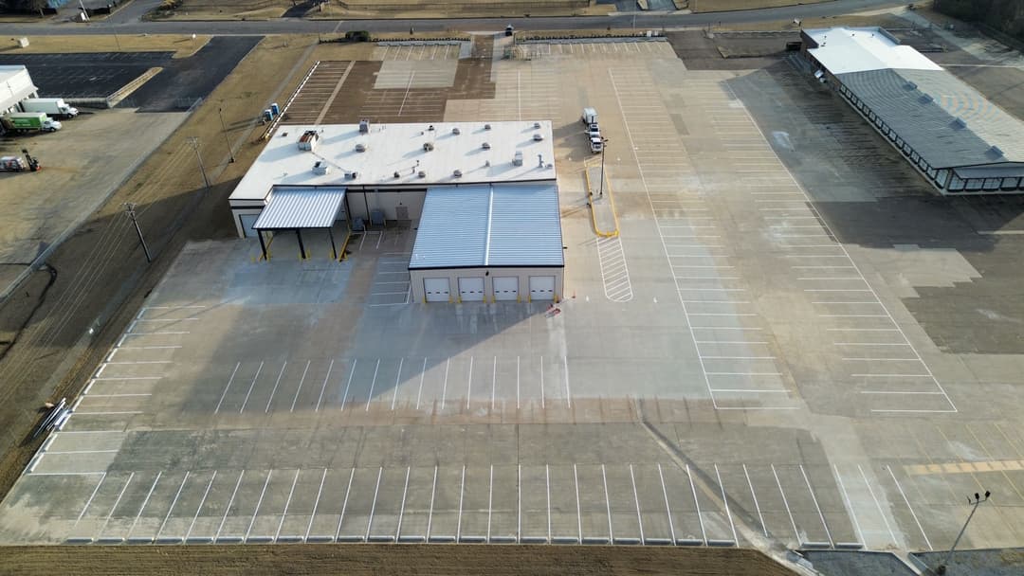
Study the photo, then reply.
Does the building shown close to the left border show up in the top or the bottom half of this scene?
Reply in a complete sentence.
The building shown close to the left border sits in the top half of the picture.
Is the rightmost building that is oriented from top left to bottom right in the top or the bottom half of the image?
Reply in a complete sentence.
The rightmost building that is oriented from top left to bottom right sits in the top half of the picture.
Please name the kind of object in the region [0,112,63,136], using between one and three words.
truck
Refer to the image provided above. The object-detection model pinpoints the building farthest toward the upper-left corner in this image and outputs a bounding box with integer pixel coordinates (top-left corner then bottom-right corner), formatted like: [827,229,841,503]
[0,68,44,114]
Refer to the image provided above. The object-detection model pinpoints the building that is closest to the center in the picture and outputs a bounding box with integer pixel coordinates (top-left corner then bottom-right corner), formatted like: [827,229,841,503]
[406,183,567,303]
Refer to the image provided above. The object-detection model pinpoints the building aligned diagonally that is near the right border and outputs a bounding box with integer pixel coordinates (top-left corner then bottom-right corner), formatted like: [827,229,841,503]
[796,27,1024,194]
